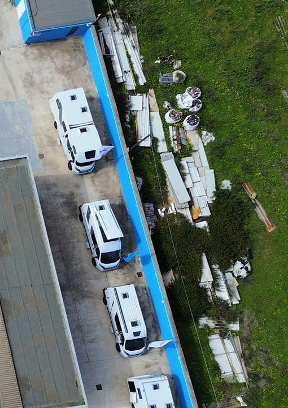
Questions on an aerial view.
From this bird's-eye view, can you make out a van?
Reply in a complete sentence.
Yes, a van can be made out from above.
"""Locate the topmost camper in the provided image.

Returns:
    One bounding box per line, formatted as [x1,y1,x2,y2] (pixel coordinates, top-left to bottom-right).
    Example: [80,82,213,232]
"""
[50,88,100,172]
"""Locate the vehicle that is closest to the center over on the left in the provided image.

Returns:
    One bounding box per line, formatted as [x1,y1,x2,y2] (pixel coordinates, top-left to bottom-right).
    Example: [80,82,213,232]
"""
[78,200,126,271]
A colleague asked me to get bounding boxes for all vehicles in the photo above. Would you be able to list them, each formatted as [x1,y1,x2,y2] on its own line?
[78,200,126,271]
[100,284,151,357]
[127,374,177,408]
[50,88,100,172]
